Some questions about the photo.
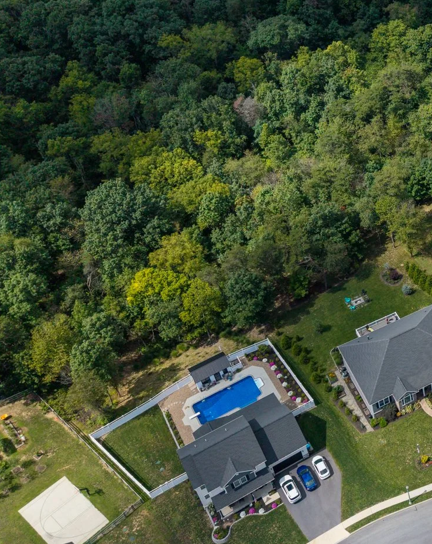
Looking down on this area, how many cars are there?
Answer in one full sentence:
The number of cars here is 3.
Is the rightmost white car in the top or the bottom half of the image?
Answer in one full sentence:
It is in the bottom half that the rightmost white car appears.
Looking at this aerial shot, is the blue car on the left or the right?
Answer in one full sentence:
The blue car is on the right side of the image.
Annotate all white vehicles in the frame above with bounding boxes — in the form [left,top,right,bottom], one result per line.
[311,455,331,481]
[280,475,302,503]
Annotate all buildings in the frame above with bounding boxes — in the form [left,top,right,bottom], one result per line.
[185,349,233,390]
[337,306,432,414]
[177,392,309,525]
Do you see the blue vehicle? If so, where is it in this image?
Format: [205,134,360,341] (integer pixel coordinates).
[296,464,317,491]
